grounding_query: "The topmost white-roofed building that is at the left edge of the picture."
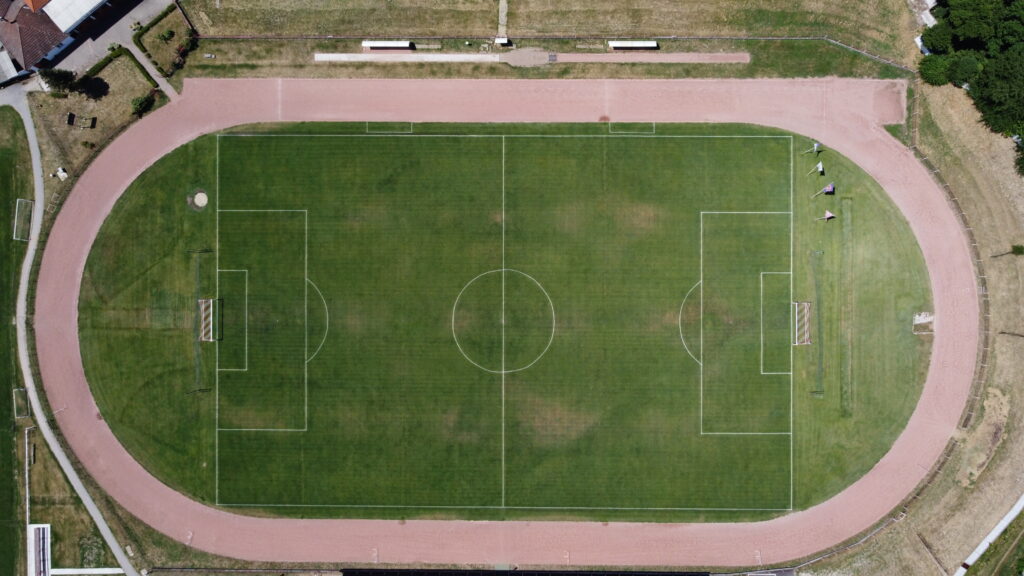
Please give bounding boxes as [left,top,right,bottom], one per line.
[41,0,134,41]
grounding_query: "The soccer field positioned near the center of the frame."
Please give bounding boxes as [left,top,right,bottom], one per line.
[216,123,792,511]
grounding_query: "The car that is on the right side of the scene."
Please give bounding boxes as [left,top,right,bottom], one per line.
[914,31,935,57]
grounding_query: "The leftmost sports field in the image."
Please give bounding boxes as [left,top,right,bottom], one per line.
[0,106,23,576]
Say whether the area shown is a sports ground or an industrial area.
sports ground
